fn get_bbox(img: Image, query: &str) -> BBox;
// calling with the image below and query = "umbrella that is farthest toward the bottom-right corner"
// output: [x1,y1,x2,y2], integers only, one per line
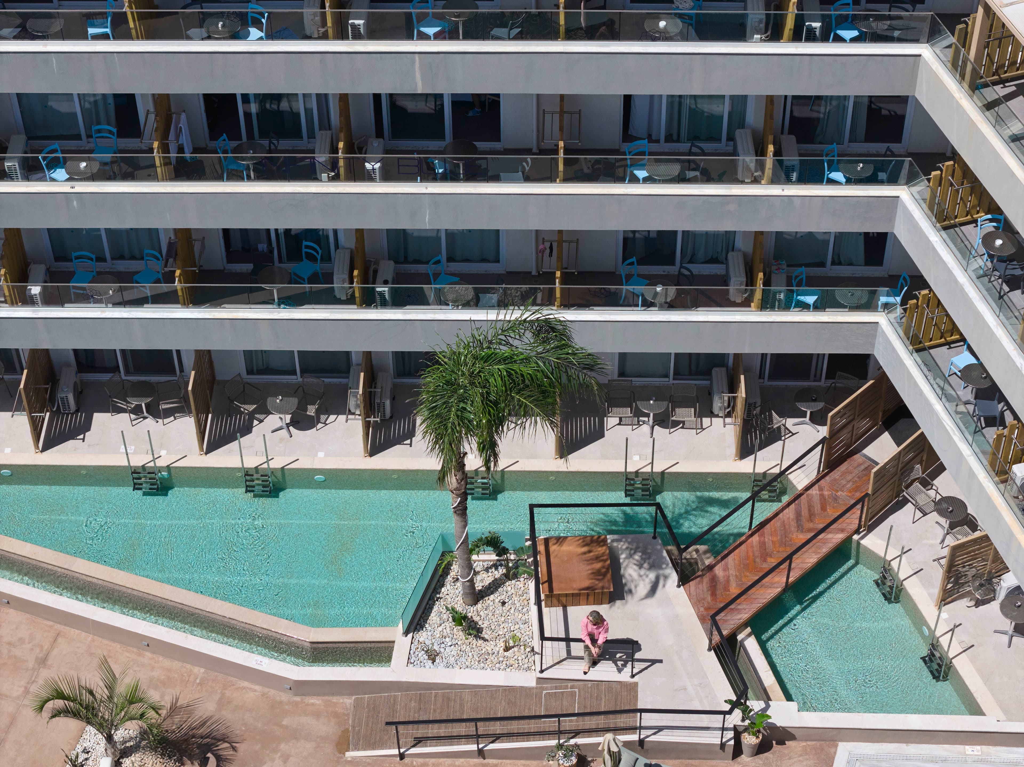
[592,732,629,767]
